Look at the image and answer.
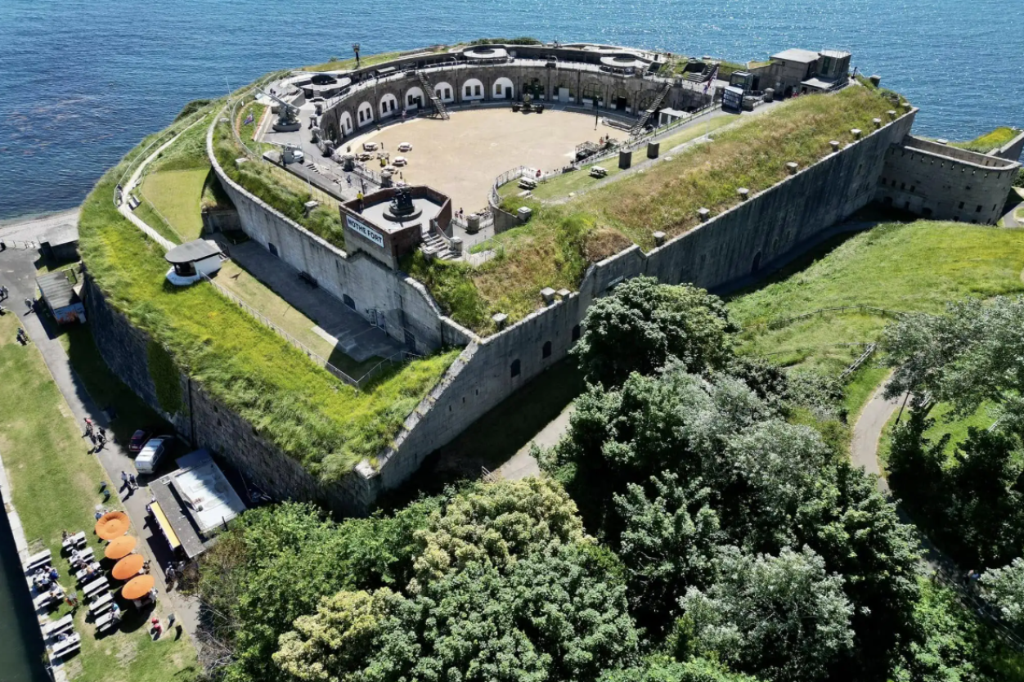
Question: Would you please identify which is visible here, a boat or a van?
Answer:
van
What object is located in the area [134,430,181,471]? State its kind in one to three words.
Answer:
van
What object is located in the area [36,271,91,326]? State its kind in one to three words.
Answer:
shed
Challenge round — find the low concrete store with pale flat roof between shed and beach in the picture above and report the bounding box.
[38,225,80,265]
